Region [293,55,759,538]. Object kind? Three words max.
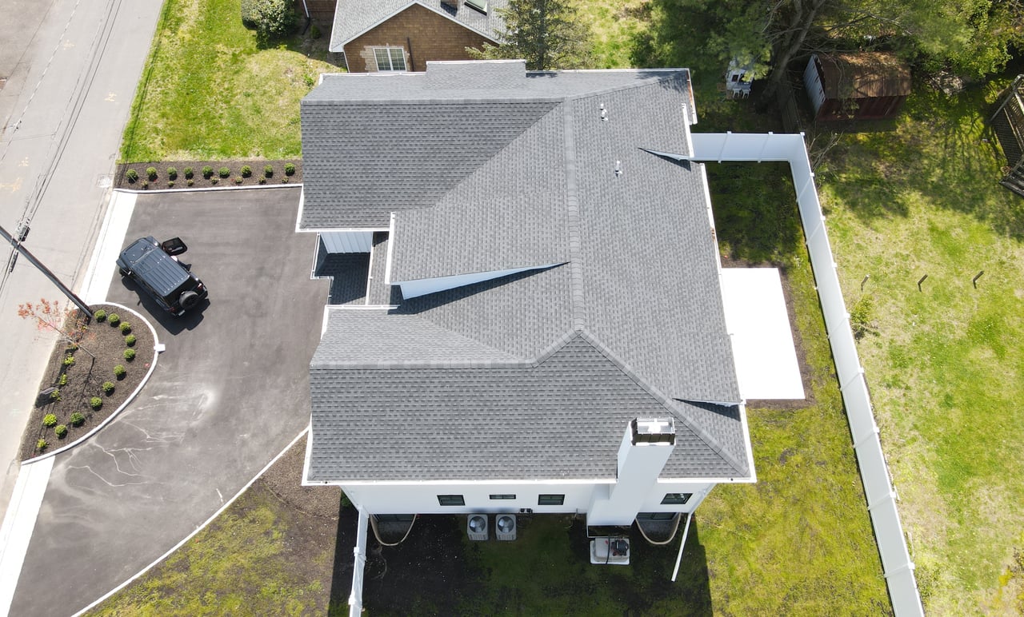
house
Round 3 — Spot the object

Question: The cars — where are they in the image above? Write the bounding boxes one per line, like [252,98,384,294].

[120,237,210,319]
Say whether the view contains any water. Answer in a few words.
No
